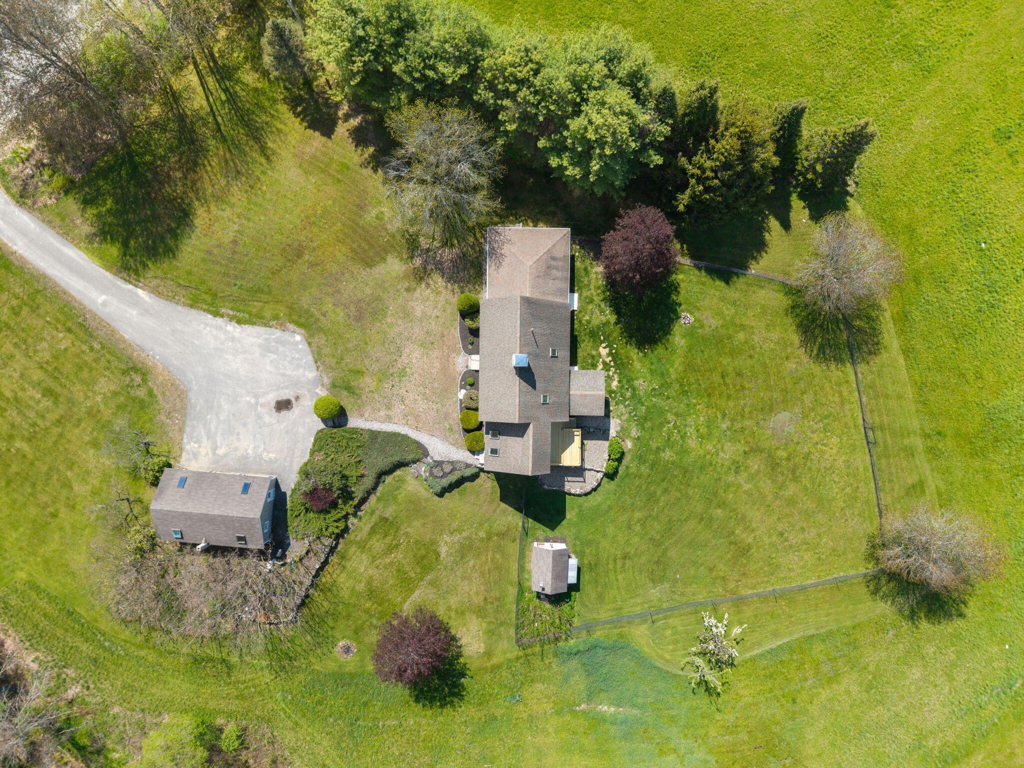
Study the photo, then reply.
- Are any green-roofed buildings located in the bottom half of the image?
No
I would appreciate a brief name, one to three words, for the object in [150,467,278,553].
building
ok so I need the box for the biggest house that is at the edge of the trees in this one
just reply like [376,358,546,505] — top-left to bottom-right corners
[470,227,606,475]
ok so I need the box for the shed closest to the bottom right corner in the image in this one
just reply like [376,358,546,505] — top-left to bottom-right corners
[533,538,570,598]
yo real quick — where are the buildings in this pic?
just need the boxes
[150,467,278,553]
[533,538,570,598]
[470,227,606,475]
